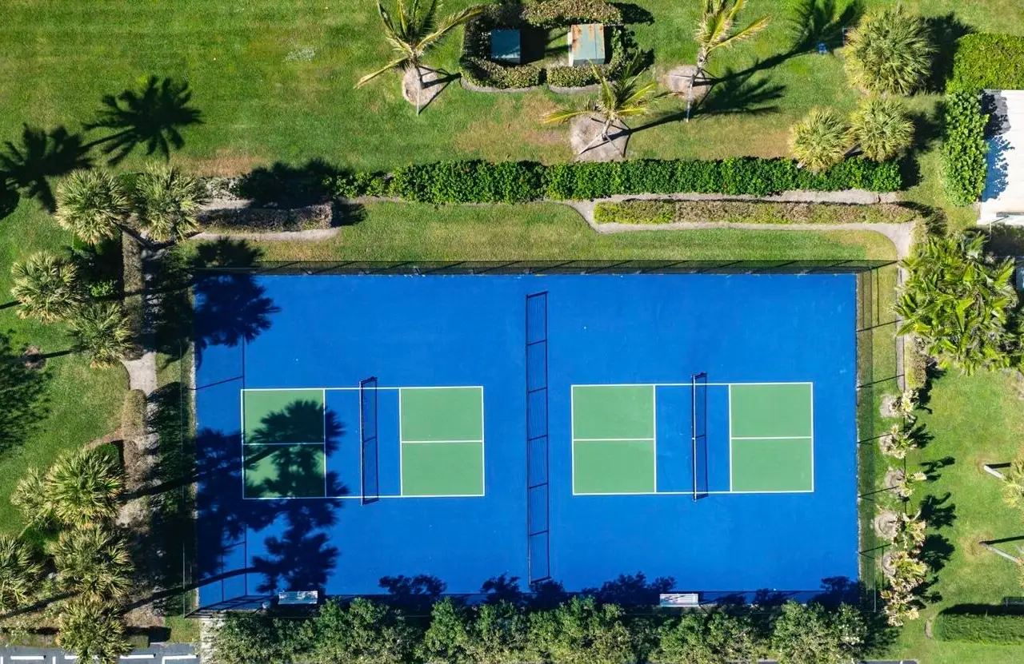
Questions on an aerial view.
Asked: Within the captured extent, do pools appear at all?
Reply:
No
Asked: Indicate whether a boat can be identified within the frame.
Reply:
No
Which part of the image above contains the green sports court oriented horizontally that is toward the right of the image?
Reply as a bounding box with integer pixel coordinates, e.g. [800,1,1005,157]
[571,382,815,496]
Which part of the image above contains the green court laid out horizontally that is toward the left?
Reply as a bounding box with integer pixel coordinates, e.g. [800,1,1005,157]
[241,386,485,500]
